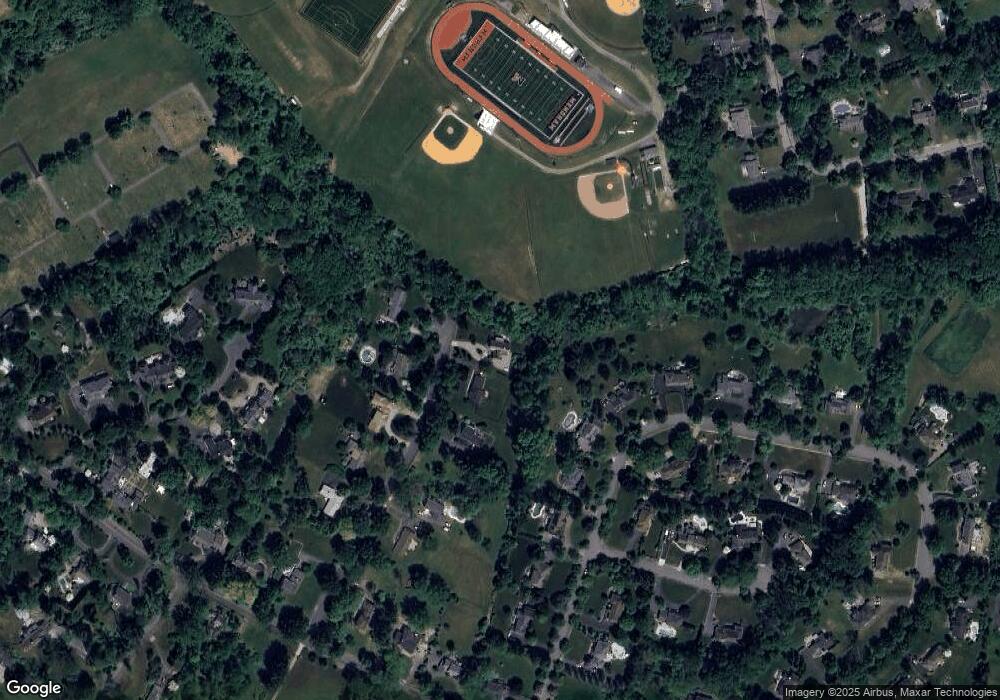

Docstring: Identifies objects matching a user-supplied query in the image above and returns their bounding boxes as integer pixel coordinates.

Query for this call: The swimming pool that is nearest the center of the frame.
[564,412,578,430]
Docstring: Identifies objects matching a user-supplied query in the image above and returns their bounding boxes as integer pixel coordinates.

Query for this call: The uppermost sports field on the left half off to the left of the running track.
[301,0,398,55]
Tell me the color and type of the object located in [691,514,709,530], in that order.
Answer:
white swimming pool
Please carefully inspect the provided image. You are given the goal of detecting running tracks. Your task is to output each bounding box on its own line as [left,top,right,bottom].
[433,2,613,156]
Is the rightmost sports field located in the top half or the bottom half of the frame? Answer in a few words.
top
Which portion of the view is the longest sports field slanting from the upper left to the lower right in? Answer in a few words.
top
